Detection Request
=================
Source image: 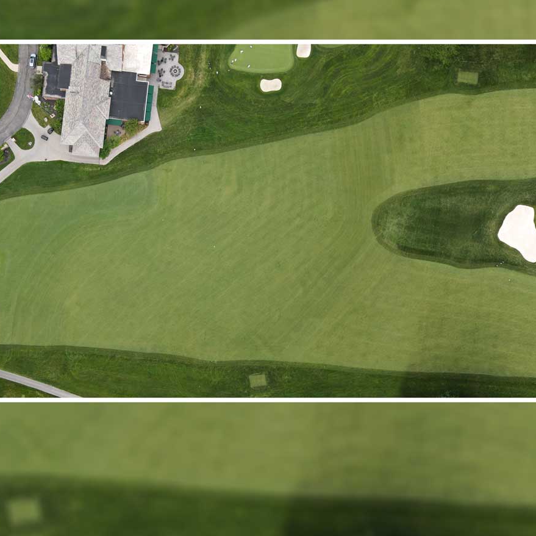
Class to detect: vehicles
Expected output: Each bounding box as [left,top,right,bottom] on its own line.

[39,135,48,140]
[44,127,53,135]
[28,53,35,69]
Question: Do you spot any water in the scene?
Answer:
No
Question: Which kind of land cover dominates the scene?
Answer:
grass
